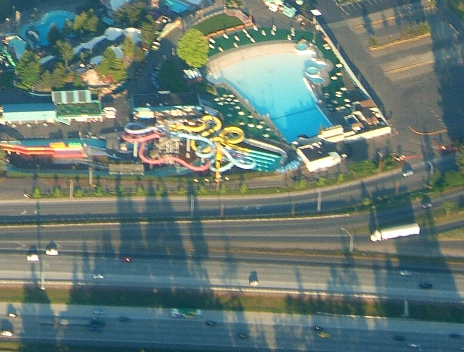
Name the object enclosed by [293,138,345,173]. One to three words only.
building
